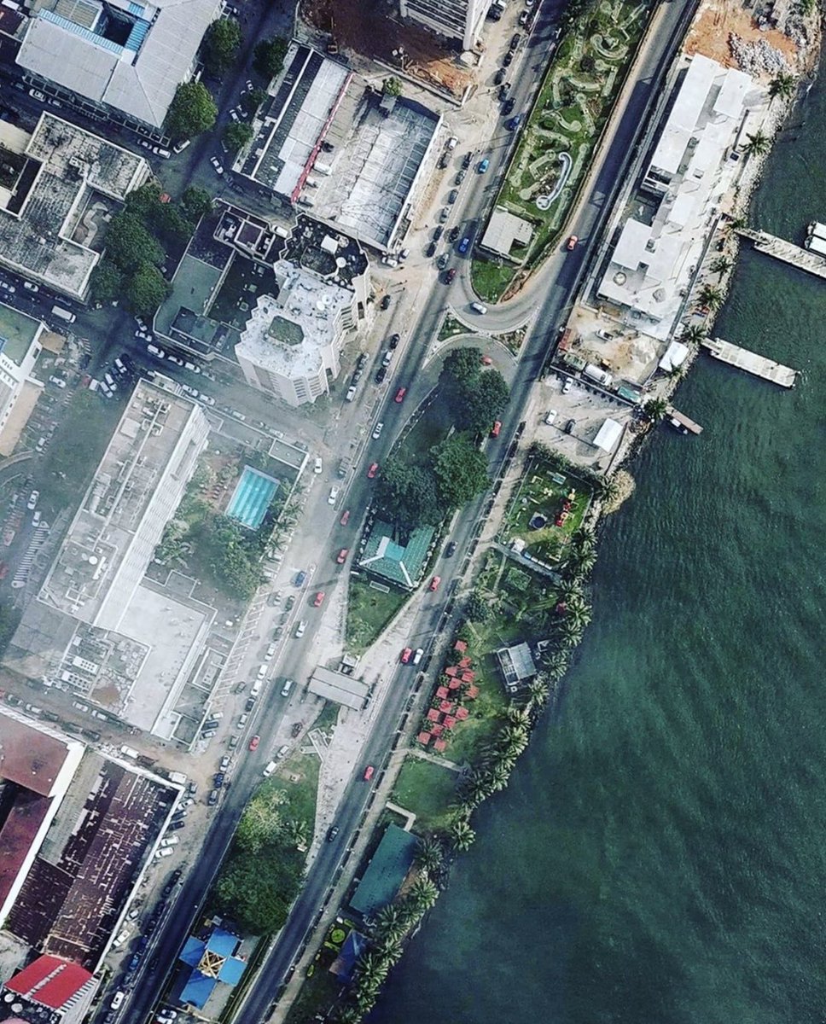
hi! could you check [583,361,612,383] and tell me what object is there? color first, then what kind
white truck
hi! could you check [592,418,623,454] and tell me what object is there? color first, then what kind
white tent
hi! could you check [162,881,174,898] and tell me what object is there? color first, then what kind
black vehicle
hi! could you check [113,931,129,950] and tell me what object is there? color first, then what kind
white vehicle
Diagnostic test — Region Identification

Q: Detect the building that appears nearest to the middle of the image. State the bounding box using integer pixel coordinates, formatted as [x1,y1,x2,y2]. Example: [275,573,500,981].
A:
[358,519,436,589]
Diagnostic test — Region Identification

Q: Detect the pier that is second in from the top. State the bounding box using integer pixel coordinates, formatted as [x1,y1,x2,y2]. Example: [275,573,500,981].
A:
[700,333,803,390]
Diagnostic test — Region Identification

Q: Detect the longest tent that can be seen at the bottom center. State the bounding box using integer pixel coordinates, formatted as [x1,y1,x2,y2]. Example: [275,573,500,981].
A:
[329,926,369,984]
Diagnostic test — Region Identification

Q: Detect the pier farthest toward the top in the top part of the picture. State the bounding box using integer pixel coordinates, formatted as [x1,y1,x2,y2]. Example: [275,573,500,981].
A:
[734,227,826,282]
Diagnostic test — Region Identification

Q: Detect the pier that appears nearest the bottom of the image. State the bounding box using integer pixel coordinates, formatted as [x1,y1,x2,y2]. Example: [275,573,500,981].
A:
[664,402,704,437]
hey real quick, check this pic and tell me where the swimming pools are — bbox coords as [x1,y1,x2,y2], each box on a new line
[224,461,282,534]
